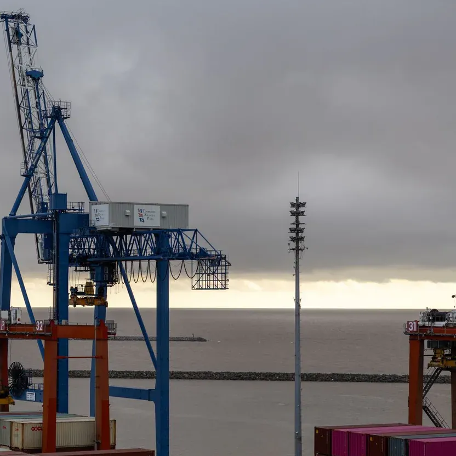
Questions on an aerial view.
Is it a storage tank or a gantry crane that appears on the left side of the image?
gantry crane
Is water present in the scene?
Yes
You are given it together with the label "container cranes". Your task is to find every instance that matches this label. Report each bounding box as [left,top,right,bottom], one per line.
[0,11,228,456]
[0,303,125,453]
[394,302,456,430]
